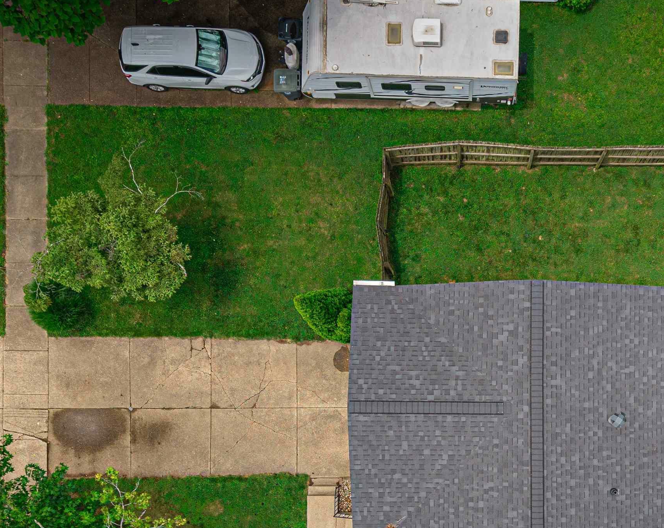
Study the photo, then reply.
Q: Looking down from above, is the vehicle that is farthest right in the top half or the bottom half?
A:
top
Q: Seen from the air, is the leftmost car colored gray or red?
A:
gray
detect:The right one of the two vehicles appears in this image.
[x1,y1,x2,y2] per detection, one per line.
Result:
[279,0,525,112]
